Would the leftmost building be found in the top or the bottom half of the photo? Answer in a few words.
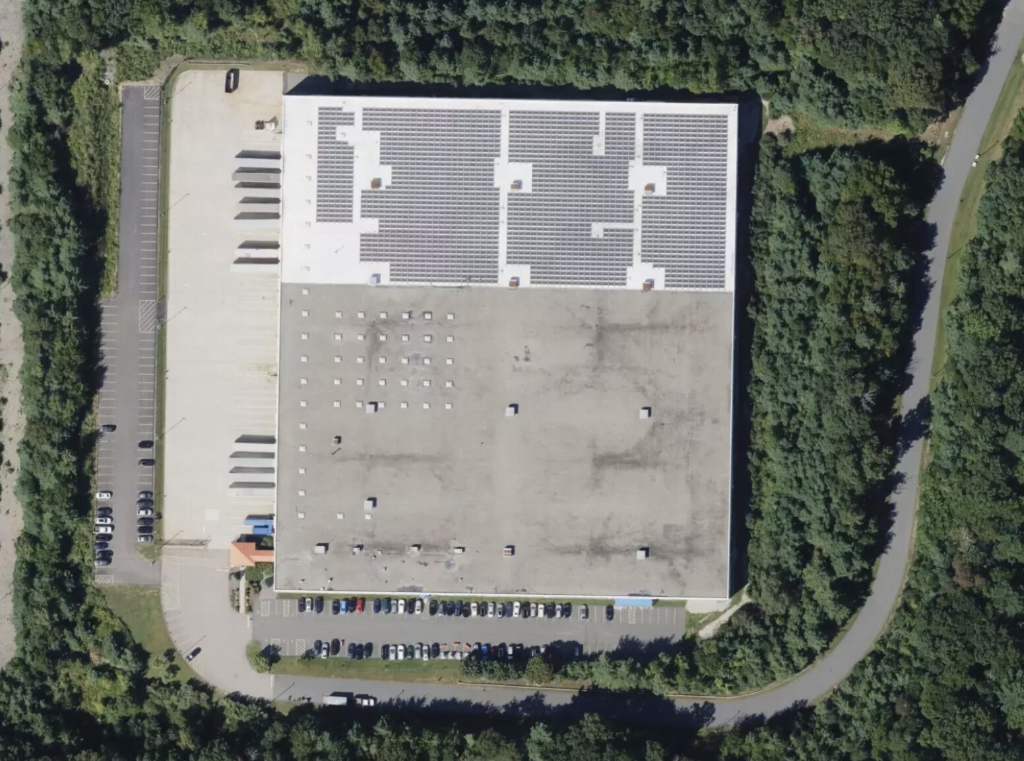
bottom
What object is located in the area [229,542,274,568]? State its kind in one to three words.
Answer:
building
